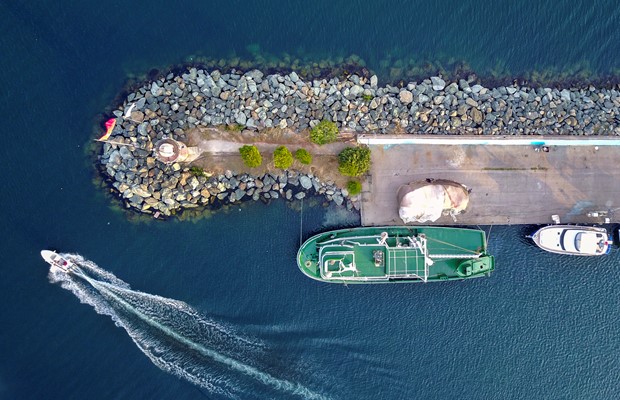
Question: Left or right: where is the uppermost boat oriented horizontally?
right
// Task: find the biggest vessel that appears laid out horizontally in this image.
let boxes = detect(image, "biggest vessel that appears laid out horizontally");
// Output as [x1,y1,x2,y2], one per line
[297,224,489,287]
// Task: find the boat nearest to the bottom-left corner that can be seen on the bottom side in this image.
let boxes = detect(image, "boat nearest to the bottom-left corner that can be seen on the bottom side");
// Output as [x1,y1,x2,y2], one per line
[41,251,76,272]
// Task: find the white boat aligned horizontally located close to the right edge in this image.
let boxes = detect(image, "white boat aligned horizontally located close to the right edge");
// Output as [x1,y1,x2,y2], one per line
[526,224,613,255]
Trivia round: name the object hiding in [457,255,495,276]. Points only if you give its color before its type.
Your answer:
green boat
